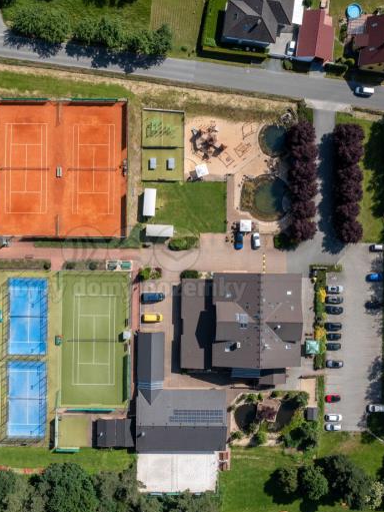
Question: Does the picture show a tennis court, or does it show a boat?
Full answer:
This aerial view contains a tennis court.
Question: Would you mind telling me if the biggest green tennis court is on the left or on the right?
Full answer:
It is on the left.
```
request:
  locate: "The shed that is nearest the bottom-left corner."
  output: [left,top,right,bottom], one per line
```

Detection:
[96,416,134,448]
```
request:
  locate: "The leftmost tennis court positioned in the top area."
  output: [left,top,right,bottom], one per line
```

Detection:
[0,101,59,236]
